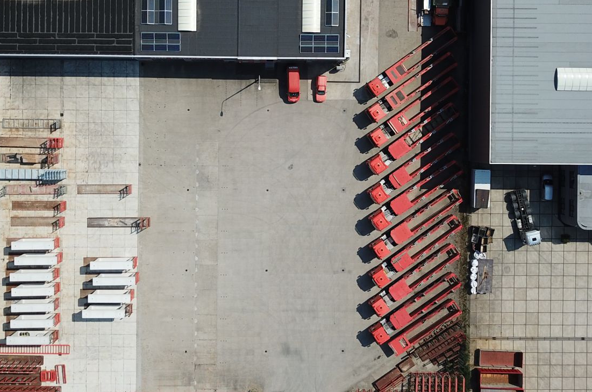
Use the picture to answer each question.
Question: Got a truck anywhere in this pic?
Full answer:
Yes, you can see a truck in this photo.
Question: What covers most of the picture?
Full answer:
The largest share of the image is taken up by paved ground.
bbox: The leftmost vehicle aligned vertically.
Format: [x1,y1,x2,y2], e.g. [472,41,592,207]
[285,67,301,103]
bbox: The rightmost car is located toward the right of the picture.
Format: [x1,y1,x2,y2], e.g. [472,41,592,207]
[540,173,554,200]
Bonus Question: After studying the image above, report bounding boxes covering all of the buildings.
[0,0,351,66]
[467,0,592,167]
